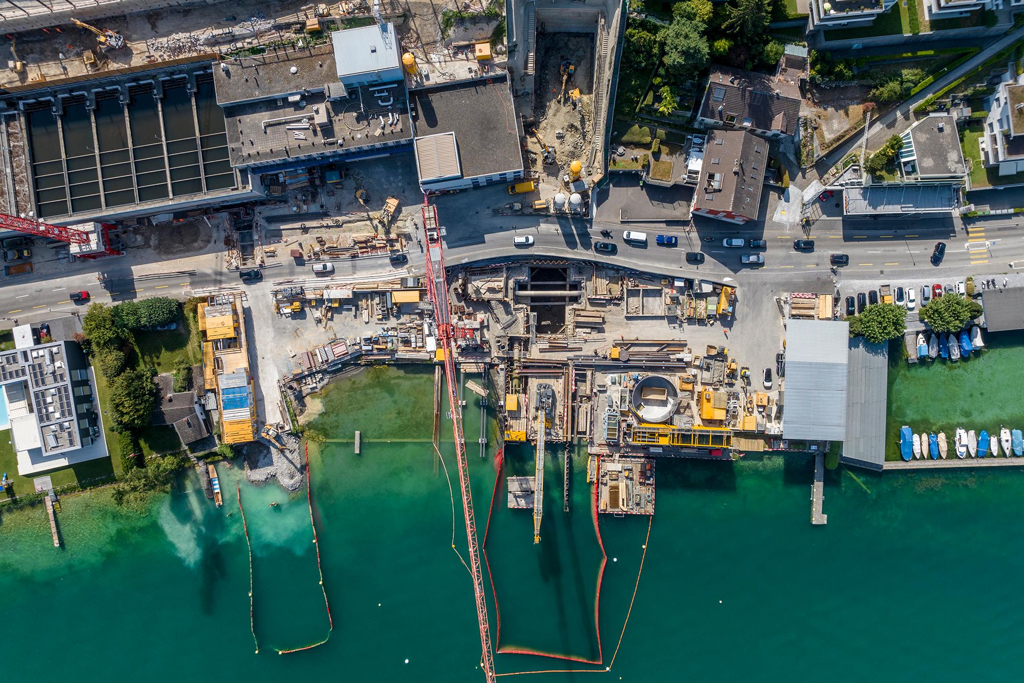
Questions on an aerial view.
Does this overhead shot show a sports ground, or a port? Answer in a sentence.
The area seen from above is a port.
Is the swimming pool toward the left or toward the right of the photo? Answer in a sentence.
The swimming pool is on the left side of the image.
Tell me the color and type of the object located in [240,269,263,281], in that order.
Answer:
black vehicle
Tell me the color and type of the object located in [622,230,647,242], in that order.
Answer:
white vehicle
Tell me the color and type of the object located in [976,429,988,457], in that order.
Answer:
blue boat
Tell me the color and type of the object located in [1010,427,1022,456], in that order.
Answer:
blue boat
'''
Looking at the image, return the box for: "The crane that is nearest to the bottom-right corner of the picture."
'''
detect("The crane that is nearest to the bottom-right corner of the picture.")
[530,381,556,541]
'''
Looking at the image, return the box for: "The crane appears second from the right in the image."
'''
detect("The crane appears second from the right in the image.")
[419,196,498,683]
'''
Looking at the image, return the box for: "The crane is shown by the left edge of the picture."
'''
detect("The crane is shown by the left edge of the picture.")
[0,210,131,263]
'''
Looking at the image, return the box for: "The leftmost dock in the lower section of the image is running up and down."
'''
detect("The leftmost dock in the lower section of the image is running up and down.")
[45,495,60,546]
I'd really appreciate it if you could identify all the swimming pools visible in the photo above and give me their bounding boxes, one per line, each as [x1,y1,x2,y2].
[0,383,21,433]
